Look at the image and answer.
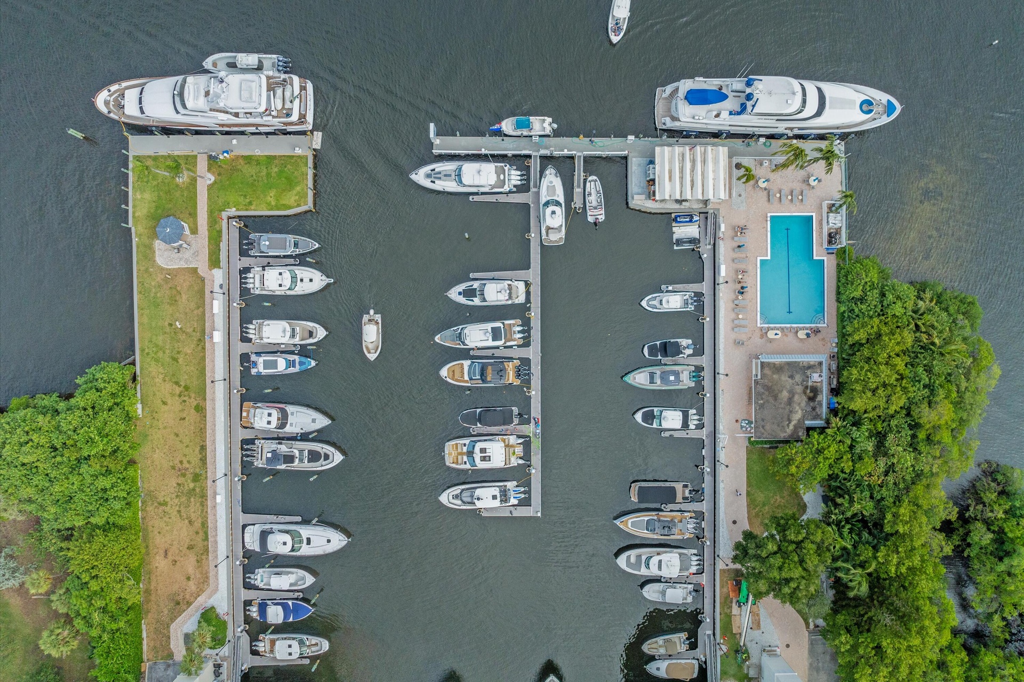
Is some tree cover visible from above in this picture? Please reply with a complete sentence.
Yes, there's tree cover in this view.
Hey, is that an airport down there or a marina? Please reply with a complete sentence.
This looks like a marina.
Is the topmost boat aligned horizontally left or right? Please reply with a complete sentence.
The topmost boat aligned horizontally is on the left side of the image.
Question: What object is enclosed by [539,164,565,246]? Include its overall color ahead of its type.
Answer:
white boat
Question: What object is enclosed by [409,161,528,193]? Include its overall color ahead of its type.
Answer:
white boat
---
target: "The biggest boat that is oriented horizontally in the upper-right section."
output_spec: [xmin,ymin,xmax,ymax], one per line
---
[653,60,909,134]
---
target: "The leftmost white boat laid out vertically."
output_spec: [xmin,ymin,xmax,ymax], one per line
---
[363,300,382,361]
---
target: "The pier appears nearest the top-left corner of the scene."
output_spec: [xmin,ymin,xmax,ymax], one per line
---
[129,135,315,157]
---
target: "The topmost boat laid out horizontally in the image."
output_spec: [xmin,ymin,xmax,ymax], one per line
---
[202,51,294,75]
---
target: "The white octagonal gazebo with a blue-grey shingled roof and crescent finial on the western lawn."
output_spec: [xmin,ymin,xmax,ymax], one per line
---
[150,211,189,243]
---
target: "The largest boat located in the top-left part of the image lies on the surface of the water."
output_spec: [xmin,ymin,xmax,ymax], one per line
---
[93,72,315,130]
